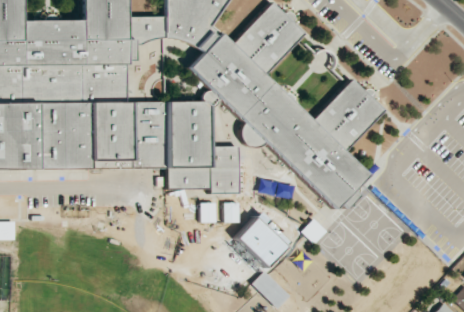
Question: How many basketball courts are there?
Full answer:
Altogether the scene contains 2 basketball courts.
